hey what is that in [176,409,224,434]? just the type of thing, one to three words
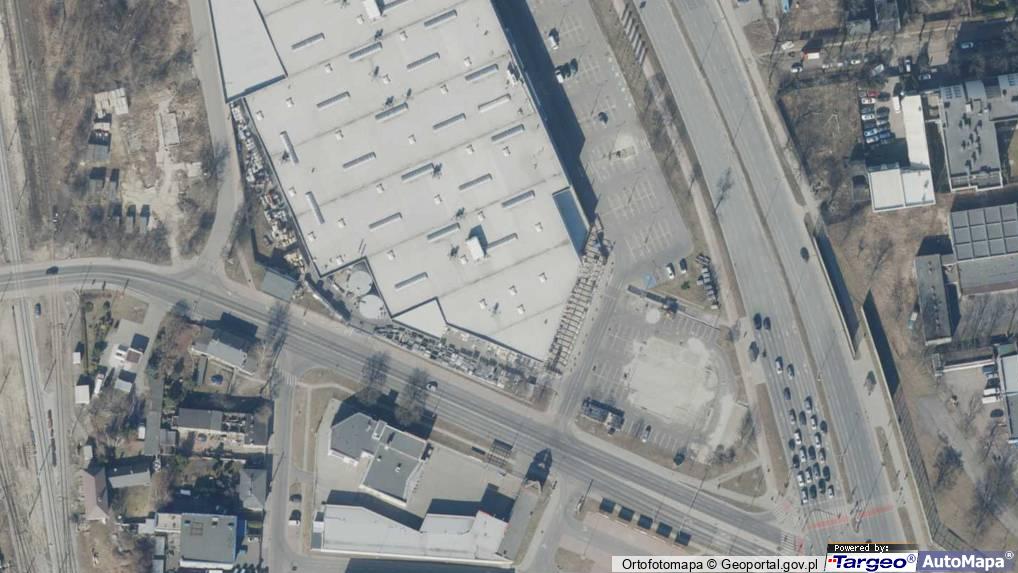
house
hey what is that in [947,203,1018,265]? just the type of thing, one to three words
building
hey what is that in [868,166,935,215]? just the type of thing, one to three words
building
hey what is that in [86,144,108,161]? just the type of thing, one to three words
shed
